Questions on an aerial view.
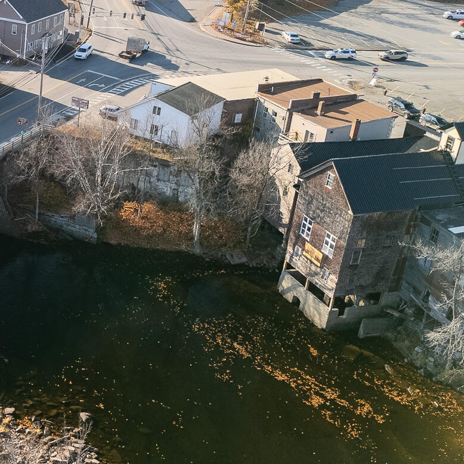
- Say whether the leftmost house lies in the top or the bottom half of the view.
top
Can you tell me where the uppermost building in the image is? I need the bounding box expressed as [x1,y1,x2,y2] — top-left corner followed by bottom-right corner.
[0,0,72,60]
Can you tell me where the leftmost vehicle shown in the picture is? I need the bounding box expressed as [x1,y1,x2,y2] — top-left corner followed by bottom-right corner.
[74,41,94,55]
